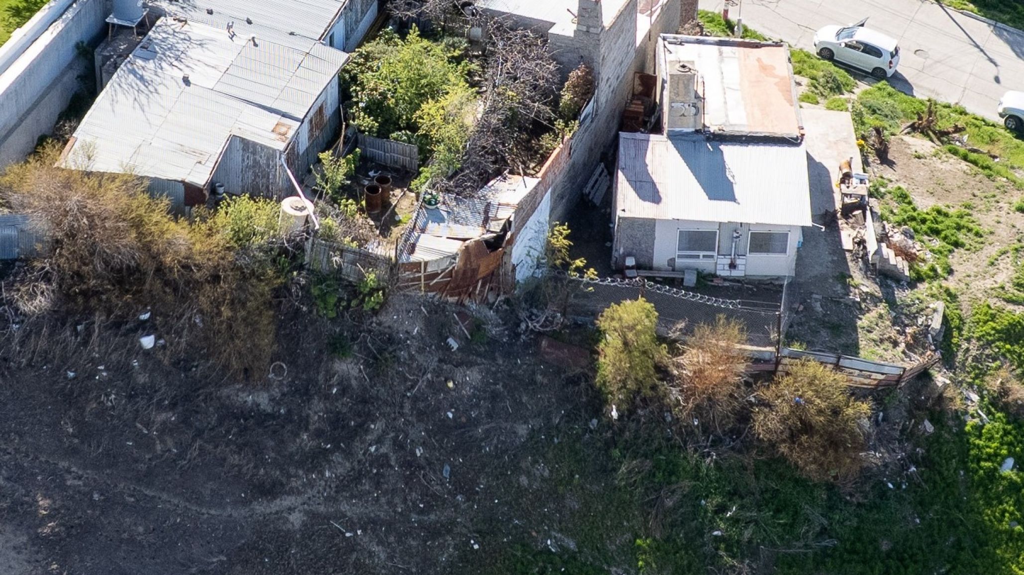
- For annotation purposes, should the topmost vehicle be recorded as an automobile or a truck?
automobile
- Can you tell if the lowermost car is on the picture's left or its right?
right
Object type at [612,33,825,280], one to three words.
house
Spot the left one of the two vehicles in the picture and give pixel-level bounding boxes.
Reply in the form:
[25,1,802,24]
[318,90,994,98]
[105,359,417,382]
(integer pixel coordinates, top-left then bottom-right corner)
[820,17,903,77]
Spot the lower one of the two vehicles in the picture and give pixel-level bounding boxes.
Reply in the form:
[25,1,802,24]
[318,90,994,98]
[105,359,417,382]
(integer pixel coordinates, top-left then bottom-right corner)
[1000,90,1024,128]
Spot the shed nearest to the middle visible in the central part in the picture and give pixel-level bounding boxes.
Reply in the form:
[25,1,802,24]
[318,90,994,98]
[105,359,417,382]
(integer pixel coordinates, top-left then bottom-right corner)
[396,175,536,320]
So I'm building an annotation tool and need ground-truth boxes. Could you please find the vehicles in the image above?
[1000,90,1024,128]
[820,17,903,77]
